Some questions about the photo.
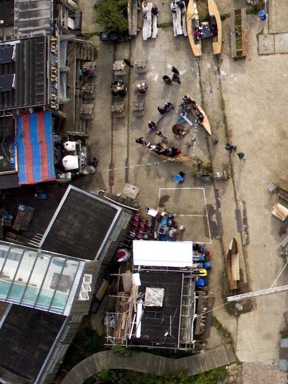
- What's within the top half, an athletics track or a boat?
boat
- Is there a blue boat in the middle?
No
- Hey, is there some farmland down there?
No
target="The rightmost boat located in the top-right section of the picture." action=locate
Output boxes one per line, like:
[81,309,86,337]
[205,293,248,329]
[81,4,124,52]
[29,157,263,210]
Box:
[208,0,222,54]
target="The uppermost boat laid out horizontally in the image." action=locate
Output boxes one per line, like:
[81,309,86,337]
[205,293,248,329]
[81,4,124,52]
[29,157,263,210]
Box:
[145,147,193,165]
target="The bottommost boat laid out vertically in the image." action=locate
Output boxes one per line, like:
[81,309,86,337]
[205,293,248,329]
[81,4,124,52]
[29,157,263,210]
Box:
[227,238,240,295]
